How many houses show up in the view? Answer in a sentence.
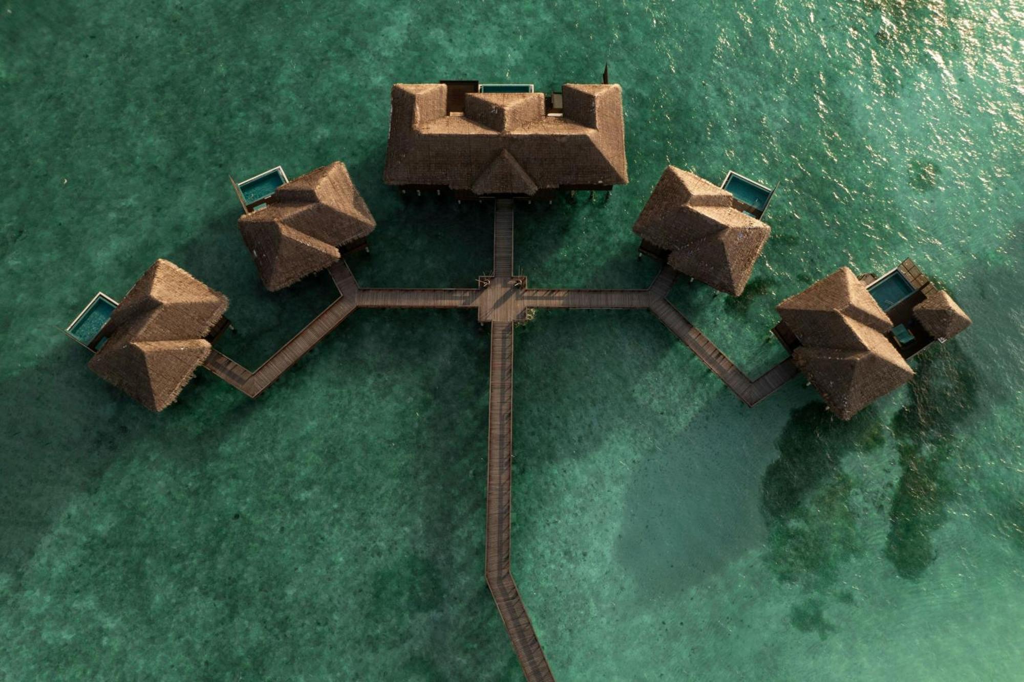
My tally gives 5 houses in this view.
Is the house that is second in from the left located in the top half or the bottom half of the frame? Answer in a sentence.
The house that is second in from the left is in the top half of the image.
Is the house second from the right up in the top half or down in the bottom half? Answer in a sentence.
Seen from above, the house second from the right lies in the top half of the view.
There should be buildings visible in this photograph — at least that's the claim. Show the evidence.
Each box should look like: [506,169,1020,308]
[383,61,631,209]
[631,166,781,298]
[767,266,947,422]
[228,161,375,291]
[52,258,237,414]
